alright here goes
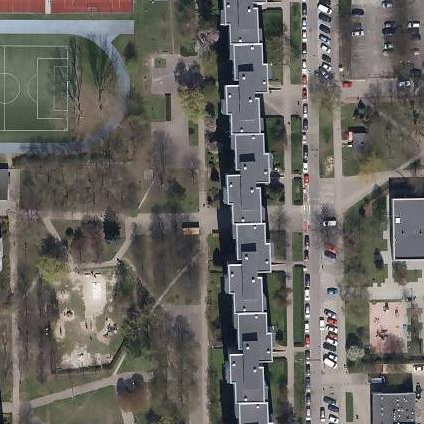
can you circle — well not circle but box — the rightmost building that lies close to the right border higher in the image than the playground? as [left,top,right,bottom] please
[392,199,424,262]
